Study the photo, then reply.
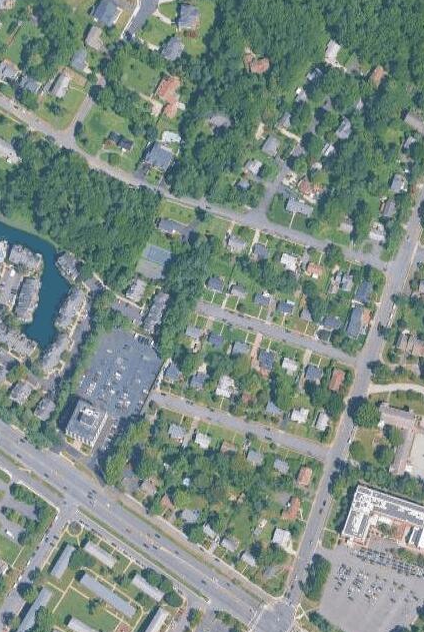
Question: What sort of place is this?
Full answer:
The area seen from above is a residential area.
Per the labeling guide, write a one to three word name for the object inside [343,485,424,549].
building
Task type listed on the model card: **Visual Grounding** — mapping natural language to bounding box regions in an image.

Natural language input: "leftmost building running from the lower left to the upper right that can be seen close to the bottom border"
[15,586,54,632]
